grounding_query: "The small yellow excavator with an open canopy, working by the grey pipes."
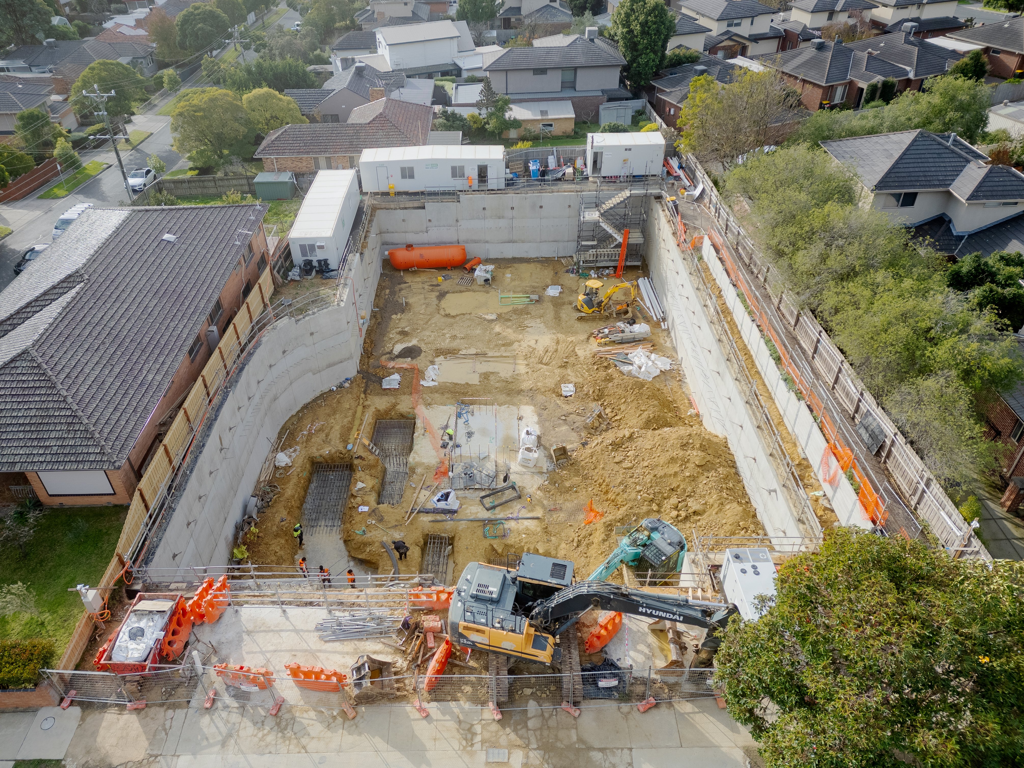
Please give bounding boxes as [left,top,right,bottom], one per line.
[569,280,637,321]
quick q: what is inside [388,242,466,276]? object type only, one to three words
storage tank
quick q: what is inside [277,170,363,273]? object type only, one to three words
shed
